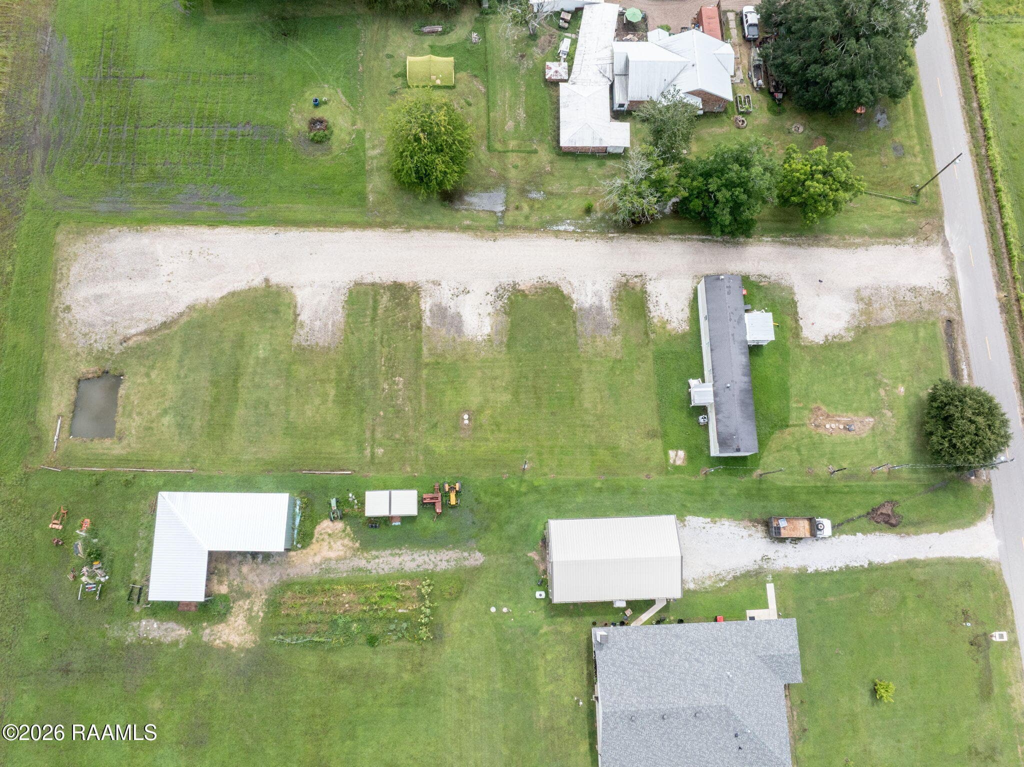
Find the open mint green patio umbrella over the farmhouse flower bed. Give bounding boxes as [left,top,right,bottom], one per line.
[624,7,642,28]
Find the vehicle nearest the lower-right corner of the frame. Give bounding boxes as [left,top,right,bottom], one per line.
[770,515,841,538]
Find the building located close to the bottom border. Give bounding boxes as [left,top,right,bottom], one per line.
[591,618,804,767]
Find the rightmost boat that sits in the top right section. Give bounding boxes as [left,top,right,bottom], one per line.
[748,46,763,84]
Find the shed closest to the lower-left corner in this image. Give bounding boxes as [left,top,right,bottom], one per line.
[149,490,291,601]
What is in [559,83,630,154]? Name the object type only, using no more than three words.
house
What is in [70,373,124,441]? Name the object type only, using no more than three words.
pond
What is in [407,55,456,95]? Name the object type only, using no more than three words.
tent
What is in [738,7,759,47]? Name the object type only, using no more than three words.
truck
